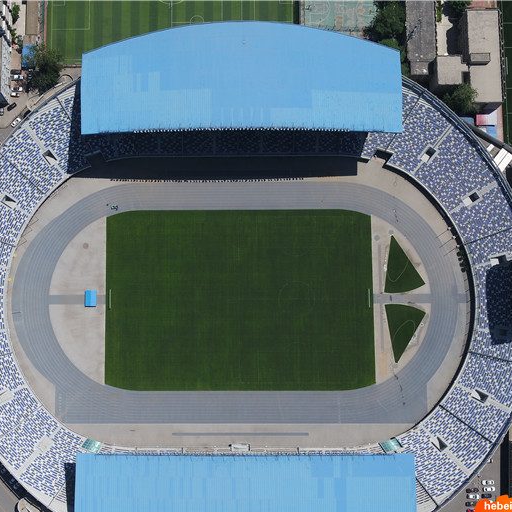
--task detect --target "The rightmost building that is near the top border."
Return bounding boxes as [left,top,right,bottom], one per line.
[456,9,502,110]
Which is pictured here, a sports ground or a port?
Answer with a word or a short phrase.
sports ground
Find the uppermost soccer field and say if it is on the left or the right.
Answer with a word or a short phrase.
left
